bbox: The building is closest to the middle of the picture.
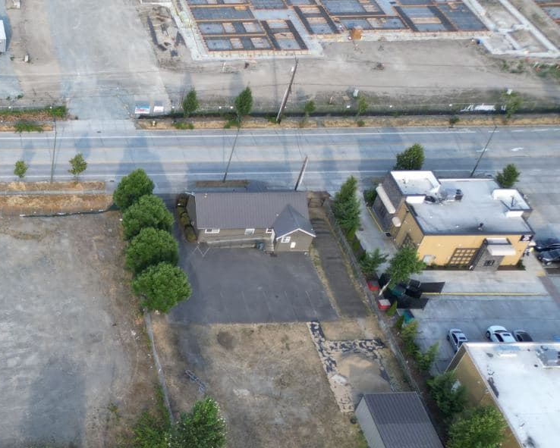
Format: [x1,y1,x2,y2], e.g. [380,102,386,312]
[190,188,319,251]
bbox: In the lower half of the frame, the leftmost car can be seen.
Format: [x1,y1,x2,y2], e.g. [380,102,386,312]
[439,331,466,359]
